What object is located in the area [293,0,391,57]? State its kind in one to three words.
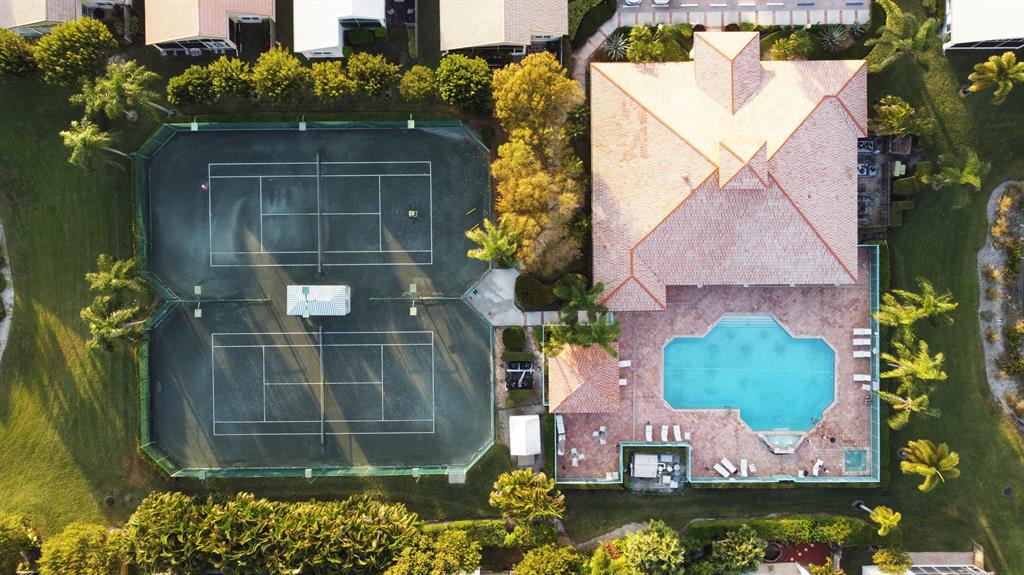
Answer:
house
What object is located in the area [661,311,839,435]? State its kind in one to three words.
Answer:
swimming pool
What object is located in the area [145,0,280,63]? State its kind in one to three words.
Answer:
house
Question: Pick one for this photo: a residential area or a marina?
residential area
